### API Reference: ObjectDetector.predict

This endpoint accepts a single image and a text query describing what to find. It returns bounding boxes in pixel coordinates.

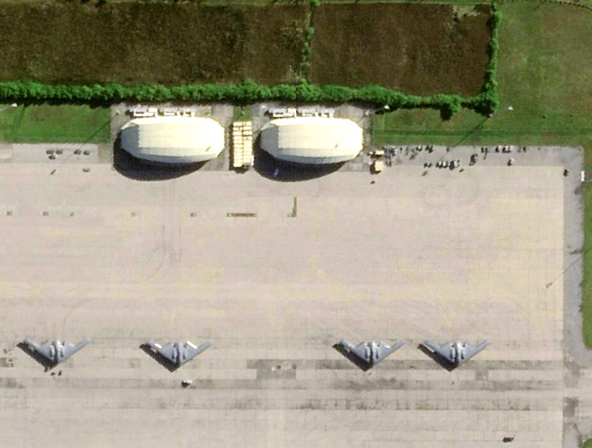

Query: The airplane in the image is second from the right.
[340,337,408,364]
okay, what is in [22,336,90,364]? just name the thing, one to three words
airplane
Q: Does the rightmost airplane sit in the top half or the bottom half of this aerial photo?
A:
bottom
